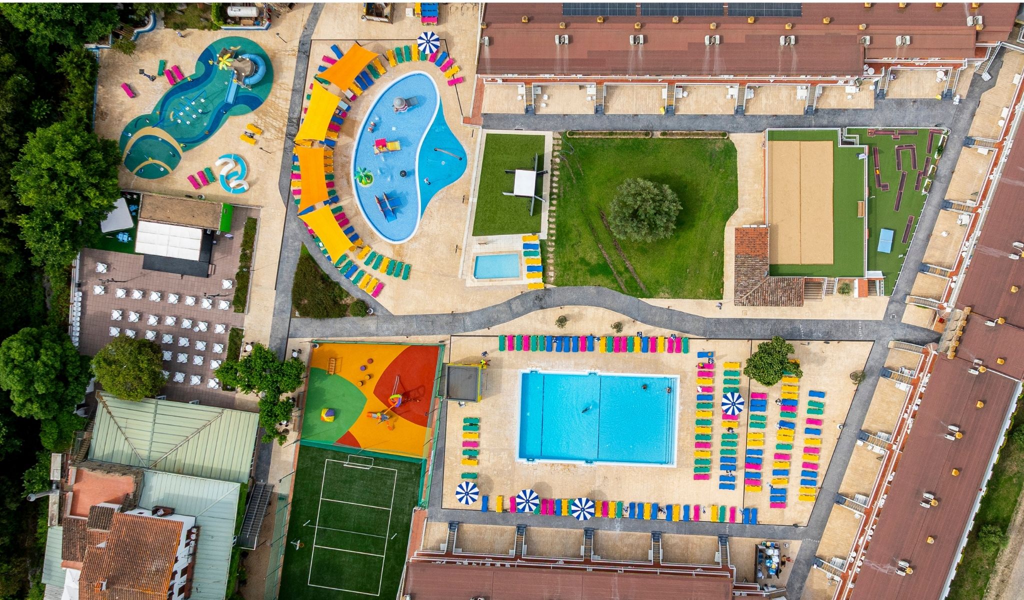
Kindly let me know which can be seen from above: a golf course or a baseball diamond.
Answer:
golf course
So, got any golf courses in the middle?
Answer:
No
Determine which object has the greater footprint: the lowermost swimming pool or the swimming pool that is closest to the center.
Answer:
the lowermost swimming pool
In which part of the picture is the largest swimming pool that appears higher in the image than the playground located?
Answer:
top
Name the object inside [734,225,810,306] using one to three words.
building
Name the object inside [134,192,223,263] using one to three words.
building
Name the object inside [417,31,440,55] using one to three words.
umbrella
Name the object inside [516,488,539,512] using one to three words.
umbrella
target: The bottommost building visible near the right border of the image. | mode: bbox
[814,339,1024,600]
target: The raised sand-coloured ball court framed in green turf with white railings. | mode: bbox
[763,129,867,278]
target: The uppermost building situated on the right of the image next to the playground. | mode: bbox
[462,0,1021,278]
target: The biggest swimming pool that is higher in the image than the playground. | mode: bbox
[351,70,468,244]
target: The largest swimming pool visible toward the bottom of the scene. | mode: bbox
[515,367,680,468]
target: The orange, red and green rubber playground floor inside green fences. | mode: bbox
[298,342,443,459]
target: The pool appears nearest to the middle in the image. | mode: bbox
[472,251,523,282]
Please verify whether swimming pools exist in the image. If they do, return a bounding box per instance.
[472,251,523,282]
[515,367,680,468]
[351,70,468,244]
